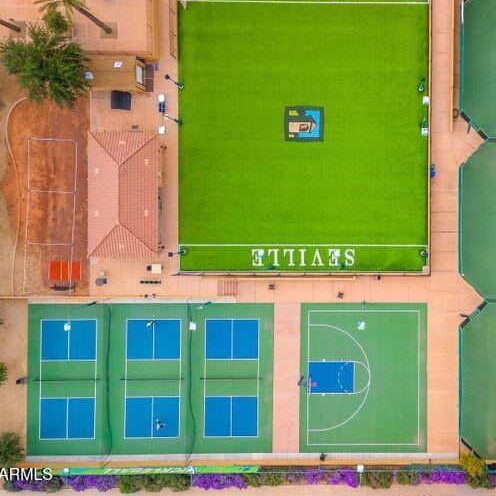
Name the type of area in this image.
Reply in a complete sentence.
The picture captures a sports ground.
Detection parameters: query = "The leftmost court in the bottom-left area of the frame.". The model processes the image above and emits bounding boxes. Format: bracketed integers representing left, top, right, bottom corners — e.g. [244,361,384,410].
[28,304,108,455]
